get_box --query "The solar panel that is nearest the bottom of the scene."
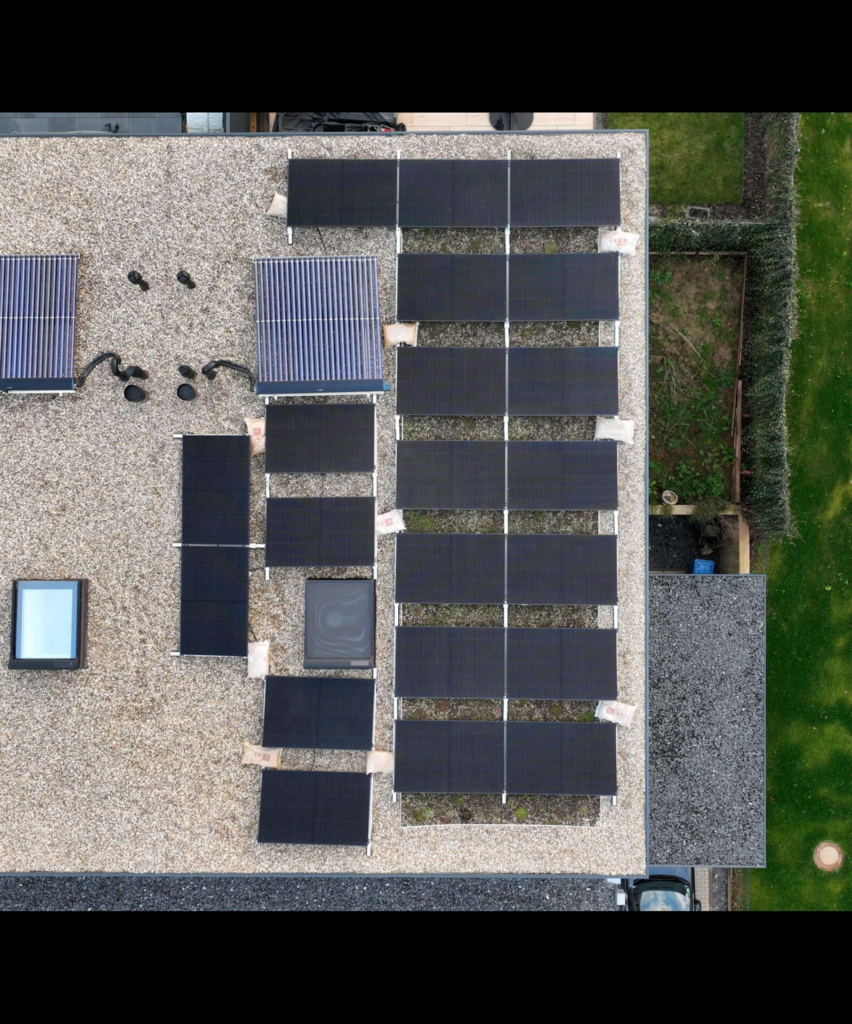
[258,769,371,845]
